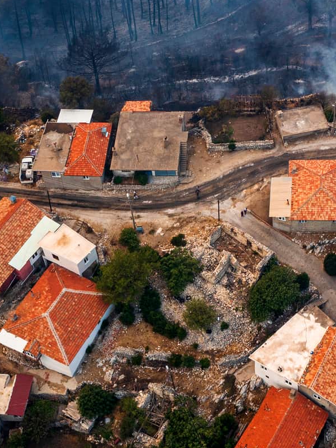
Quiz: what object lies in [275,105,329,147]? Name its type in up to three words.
shed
